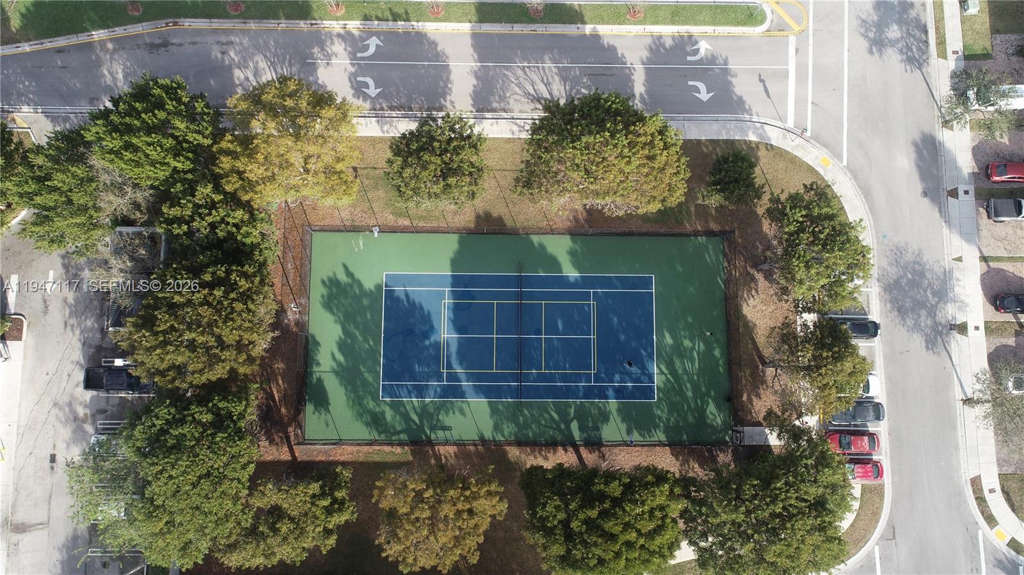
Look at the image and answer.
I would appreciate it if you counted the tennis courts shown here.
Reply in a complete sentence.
There is 1 tennis court in the image.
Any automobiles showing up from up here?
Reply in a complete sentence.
Yes, the image includes an automobile.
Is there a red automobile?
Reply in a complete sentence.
Yes, there is a red automobile in the image.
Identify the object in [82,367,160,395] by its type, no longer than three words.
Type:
truck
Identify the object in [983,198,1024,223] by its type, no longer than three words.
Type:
truck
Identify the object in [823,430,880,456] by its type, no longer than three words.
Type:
car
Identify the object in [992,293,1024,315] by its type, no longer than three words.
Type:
car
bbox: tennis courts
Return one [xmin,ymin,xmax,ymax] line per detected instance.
[303,232,732,447]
